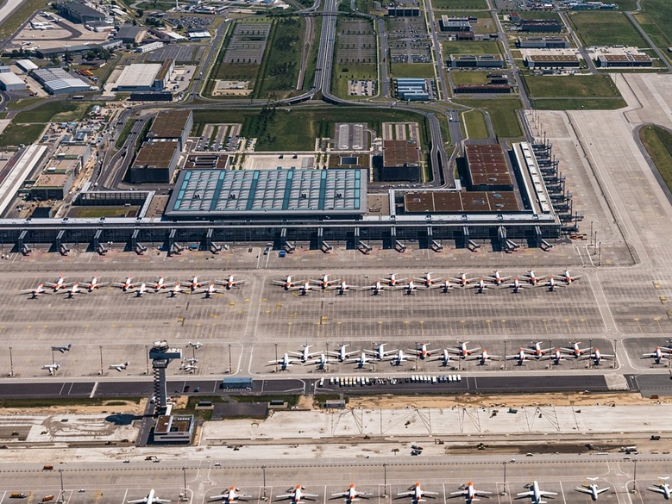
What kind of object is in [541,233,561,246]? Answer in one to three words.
jet bridge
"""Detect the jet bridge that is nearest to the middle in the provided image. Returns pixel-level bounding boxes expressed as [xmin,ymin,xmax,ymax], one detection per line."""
[324,235,344,247]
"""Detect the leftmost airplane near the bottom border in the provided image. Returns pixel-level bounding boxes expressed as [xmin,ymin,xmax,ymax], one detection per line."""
[127,487,171,504]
